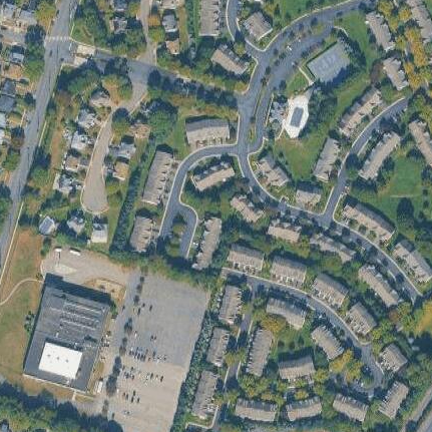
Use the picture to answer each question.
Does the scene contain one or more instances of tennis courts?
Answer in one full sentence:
Yes, this view includes a tennis court.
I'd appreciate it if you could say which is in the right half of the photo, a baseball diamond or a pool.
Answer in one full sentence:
The feature located in the right half of the photo is a pool.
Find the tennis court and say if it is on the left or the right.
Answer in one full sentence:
The tennis court appears in the right half of the scene.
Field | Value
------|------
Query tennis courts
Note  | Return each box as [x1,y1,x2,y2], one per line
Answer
[306,42,352,86]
